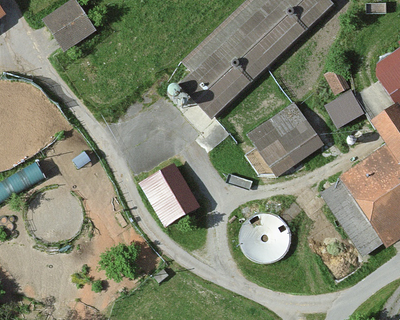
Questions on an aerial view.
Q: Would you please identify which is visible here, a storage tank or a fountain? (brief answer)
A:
storage tank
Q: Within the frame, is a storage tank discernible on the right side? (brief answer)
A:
Yes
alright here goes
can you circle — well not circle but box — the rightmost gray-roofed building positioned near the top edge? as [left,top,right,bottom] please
[180,0,334,118]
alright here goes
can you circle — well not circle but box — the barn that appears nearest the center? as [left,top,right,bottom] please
[139,164,200,226]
